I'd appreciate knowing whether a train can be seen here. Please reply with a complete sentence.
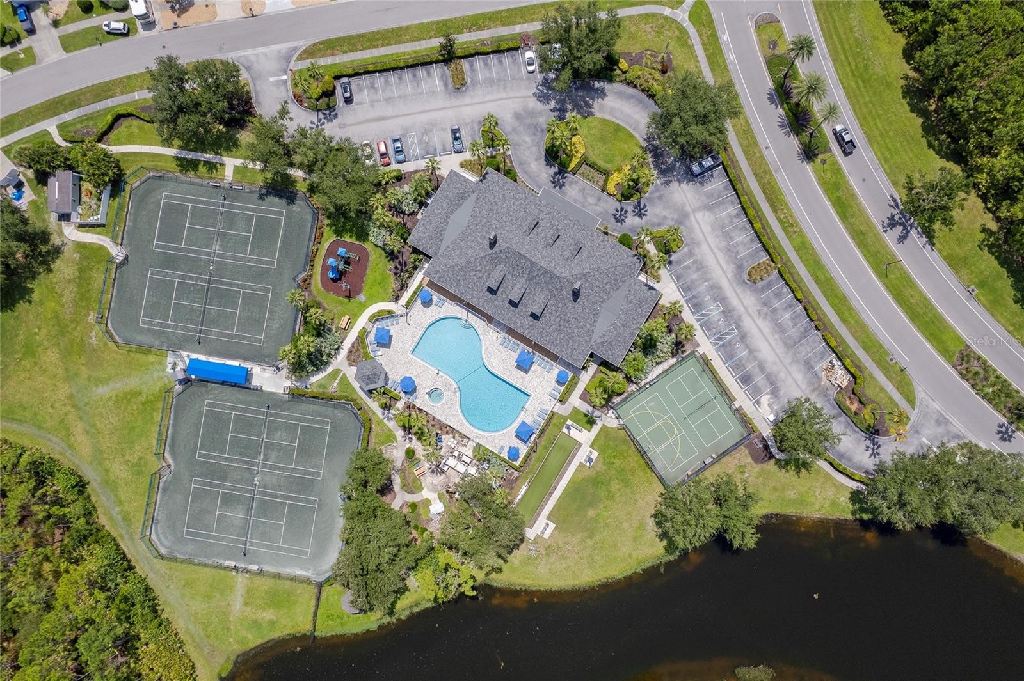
No, I can see no train in this picture.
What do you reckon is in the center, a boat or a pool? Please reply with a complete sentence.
The feature located in the center is a pool.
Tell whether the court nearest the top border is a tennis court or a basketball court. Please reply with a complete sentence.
The court nearest the top border is a tennis court.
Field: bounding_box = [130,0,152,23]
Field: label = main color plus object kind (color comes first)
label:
white vehicle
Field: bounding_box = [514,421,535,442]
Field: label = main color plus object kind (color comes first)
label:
blue umbrella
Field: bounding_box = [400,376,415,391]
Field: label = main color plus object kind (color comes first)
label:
blue umbrella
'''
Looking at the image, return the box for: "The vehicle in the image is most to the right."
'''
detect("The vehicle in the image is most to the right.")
[834,123,857,155]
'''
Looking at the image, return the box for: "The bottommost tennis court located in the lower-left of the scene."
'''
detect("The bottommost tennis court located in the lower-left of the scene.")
[150,466,351,581]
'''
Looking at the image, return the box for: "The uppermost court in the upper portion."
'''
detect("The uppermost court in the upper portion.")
[122,178,317,278]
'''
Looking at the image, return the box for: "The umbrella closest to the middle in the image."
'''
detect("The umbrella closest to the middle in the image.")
[515,349,535,370]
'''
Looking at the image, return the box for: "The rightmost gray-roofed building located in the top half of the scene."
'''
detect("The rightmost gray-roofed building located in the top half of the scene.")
[407,168,662,369]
